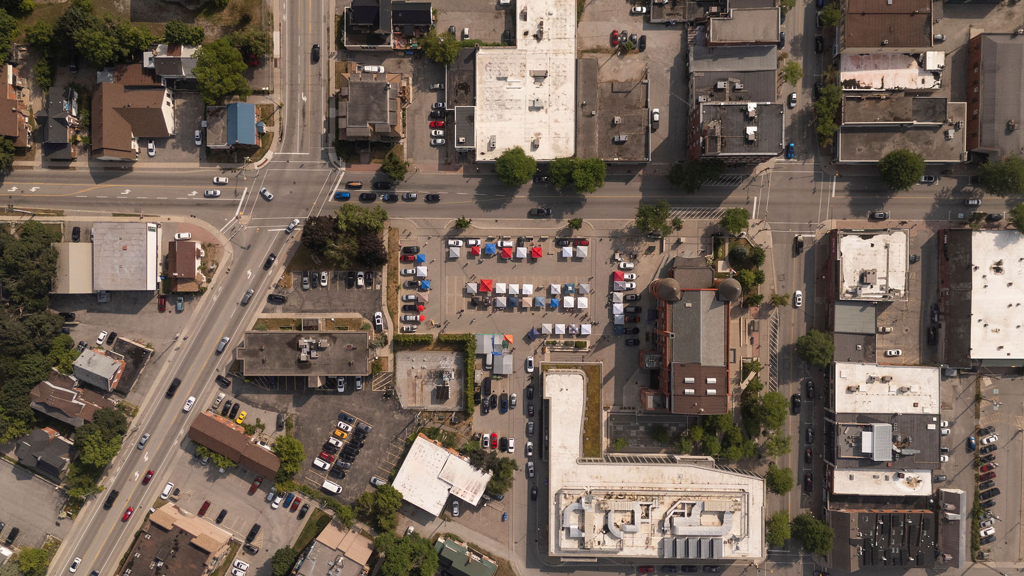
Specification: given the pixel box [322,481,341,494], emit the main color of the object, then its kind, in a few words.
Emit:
white vehicle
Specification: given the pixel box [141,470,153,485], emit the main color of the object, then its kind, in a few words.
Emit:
red vehicle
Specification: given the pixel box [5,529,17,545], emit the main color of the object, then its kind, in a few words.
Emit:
black vehicle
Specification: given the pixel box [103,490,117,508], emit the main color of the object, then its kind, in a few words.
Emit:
black vehicle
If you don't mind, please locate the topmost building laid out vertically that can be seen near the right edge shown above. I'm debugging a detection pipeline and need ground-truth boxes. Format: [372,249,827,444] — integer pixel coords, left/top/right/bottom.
[964,28,1024,167]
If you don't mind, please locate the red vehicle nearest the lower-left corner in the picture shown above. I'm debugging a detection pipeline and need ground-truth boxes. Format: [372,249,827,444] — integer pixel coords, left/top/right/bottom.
[121,507,133,522]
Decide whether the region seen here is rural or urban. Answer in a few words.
urban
